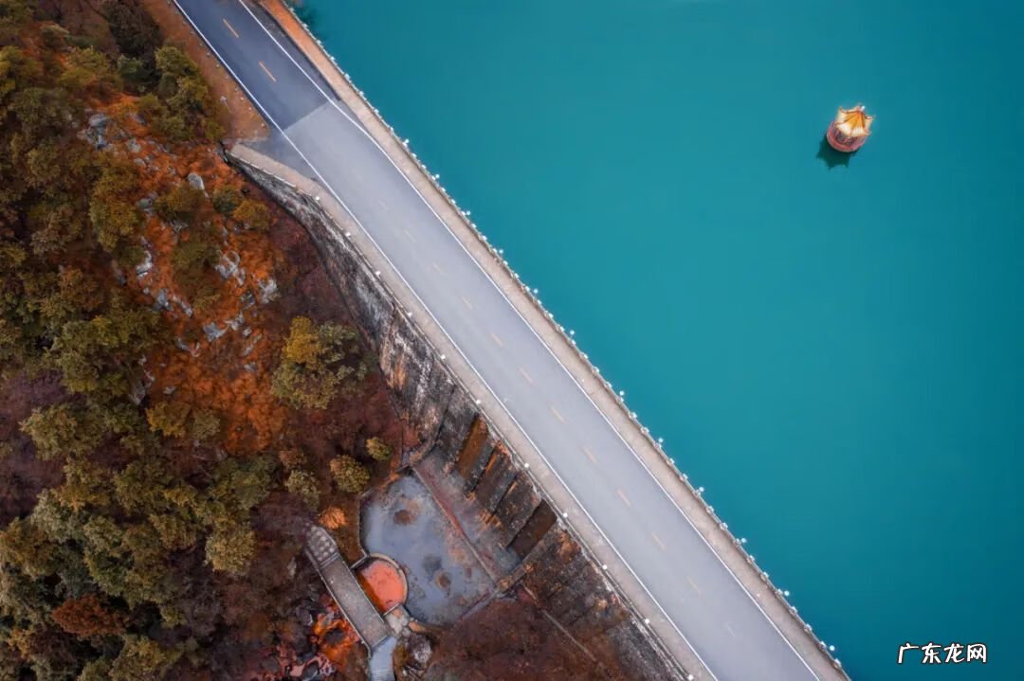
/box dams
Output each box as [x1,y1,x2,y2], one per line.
[225,0,853,681]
